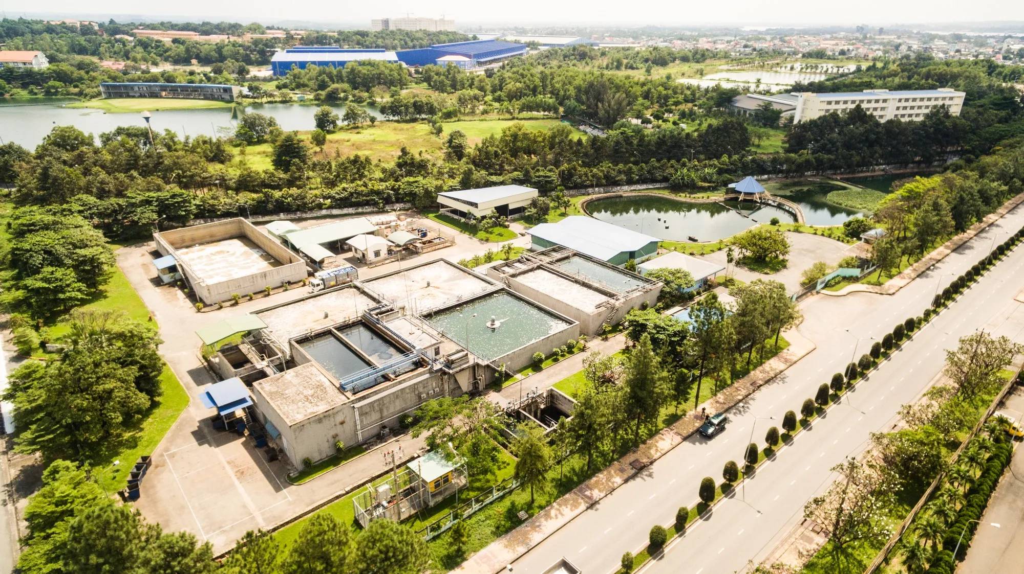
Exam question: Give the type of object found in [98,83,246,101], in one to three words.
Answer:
building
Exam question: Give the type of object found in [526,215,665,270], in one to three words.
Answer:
shed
